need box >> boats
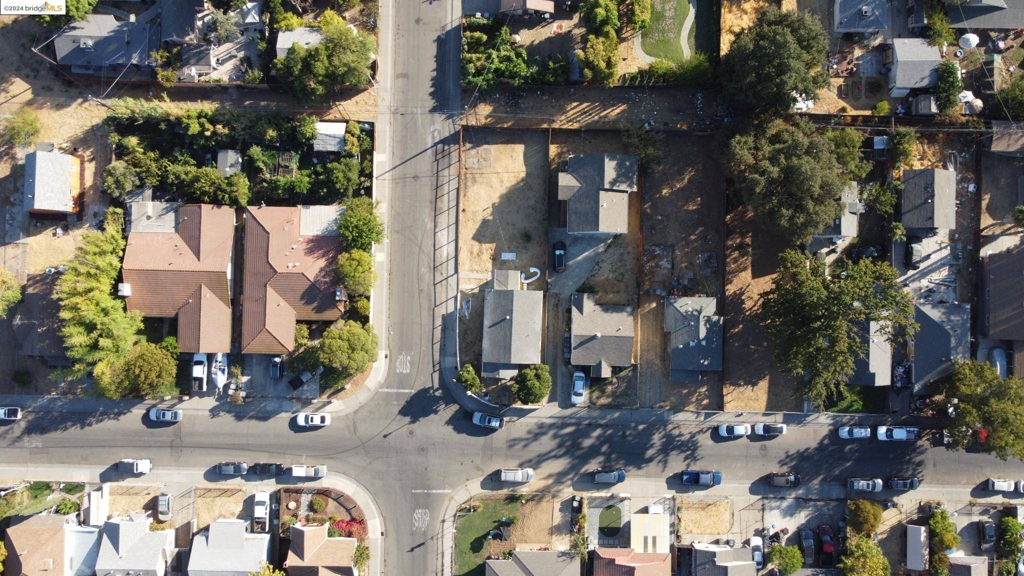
[210,353,226,391]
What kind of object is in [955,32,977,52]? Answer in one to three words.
umbrella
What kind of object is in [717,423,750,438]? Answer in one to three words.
car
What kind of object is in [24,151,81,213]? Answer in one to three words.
house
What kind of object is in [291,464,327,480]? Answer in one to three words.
vehicle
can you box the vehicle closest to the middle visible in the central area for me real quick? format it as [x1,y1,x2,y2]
[552,241,568,272]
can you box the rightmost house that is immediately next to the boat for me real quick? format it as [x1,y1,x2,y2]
[242,206,346,354]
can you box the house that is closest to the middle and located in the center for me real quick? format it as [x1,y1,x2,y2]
[482,270,543,379]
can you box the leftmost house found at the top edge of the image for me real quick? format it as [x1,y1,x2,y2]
[54,15,162,81]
